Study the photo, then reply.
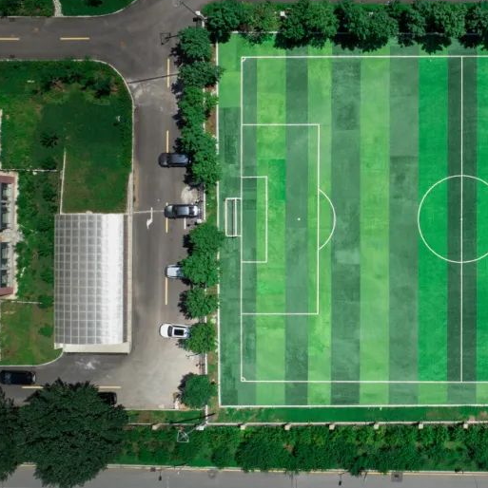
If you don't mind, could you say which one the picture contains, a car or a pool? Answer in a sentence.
I can see a car in this picture.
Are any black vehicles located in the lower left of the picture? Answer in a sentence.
Yes, looking in the lower left of the picture, one can make out a black vehicle.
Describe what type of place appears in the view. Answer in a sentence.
This looks like a sports ground.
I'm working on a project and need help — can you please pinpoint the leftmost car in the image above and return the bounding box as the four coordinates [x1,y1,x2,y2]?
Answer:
[0,370,37,387]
